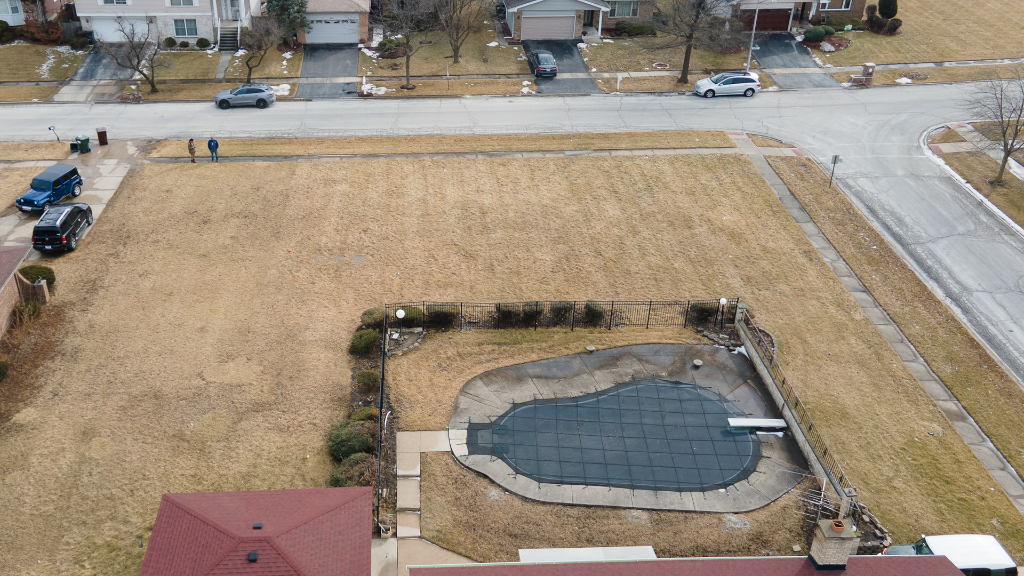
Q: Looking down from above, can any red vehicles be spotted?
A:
No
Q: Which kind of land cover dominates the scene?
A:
grass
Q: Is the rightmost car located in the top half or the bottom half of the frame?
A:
bottom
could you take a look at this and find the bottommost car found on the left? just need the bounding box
[30,204,92,255]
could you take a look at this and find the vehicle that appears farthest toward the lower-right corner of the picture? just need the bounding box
[877,537,1020,576]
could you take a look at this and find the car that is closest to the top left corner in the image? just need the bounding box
[14,163,86,213]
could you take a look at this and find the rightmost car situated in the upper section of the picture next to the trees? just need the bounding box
[693,71,764,98]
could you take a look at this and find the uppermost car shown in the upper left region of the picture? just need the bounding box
[214,82,276,109]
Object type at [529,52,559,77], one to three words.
car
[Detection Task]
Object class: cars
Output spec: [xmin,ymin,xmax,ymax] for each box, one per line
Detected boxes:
[30,204,92,255]
[529,52,559,77]
[214,82,276,109]
[693,71,764,98]
[14,163,86,213]
[877,537,1020,576]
